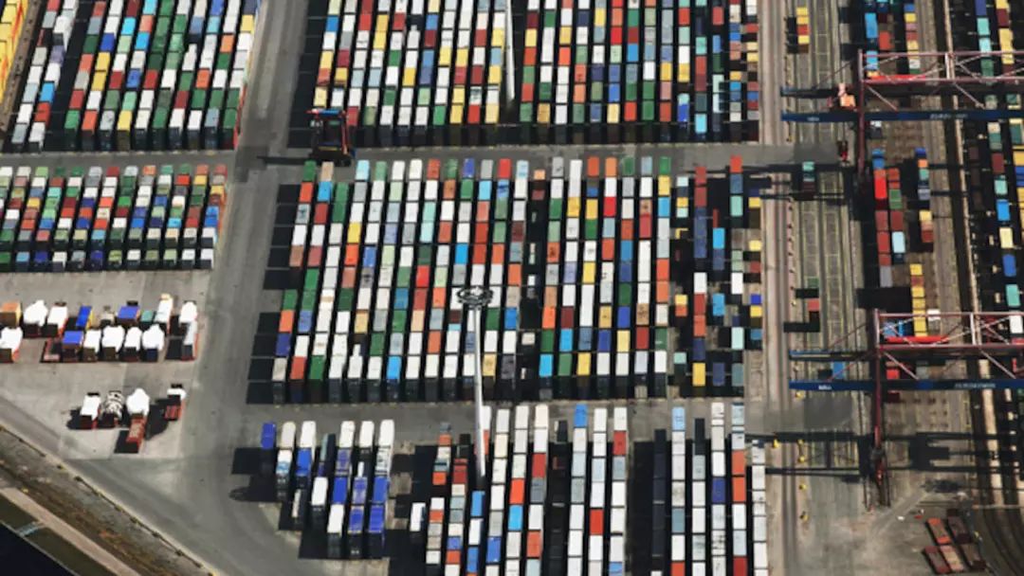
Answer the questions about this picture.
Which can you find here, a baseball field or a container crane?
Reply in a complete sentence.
Of the two, only a container crane appears.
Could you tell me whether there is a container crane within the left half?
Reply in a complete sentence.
No, the scene shows no container crane within the left half.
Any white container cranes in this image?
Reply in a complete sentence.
No, there isn't any white container crane down there.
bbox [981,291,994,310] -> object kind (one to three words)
rail car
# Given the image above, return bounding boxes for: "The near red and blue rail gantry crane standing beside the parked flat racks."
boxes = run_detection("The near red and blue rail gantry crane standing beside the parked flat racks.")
[789,310,1024,494]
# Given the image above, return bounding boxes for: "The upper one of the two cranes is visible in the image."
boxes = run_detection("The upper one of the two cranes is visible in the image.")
[782,50,1024,214]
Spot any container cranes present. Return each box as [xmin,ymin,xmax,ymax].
[789,310,1024,494]
[782,50,1024,214]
